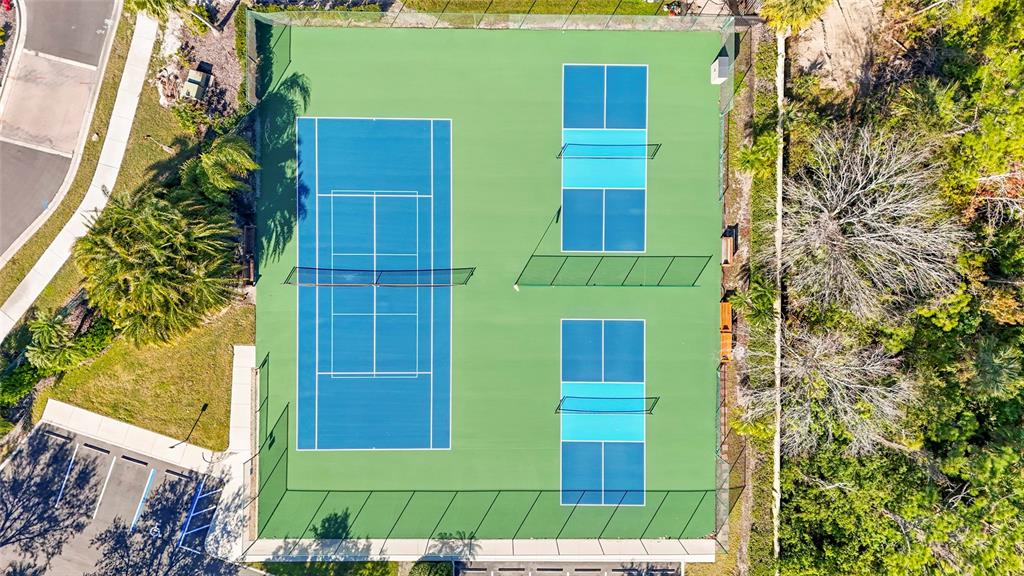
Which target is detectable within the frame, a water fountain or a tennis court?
tennis court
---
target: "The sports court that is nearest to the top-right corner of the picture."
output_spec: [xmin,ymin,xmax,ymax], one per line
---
[561,64,648,252]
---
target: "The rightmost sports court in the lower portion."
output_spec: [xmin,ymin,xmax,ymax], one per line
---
[560,319,646,506]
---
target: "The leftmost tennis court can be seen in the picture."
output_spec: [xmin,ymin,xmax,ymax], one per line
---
[297,118,452,450]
